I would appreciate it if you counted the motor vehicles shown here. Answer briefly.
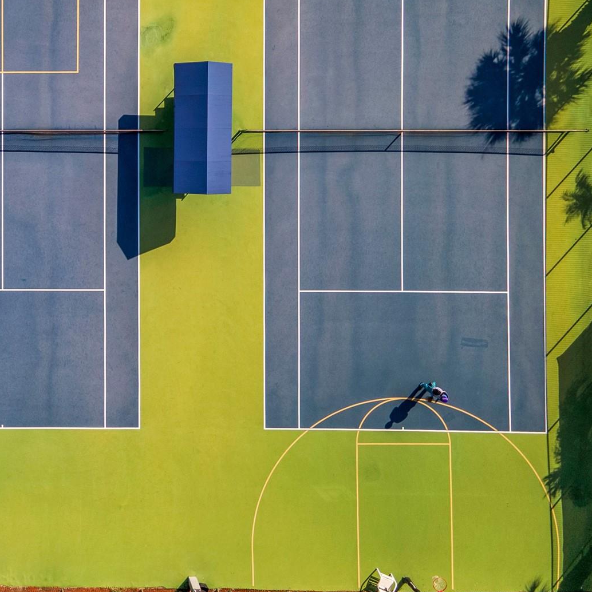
0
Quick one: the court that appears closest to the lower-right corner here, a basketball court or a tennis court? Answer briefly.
basketball court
